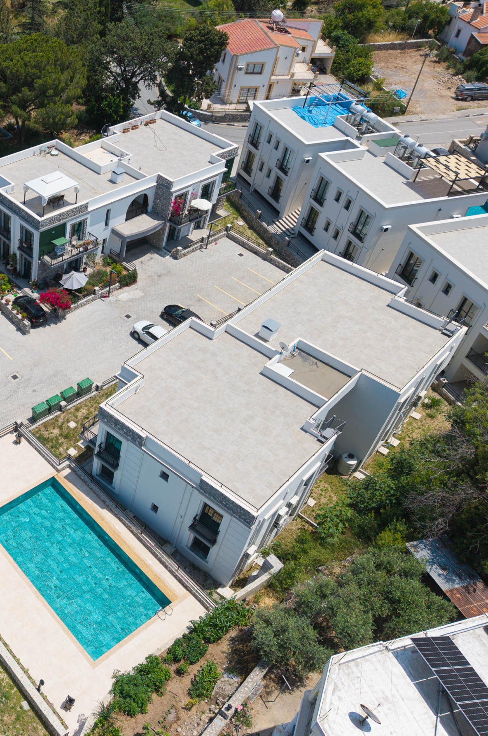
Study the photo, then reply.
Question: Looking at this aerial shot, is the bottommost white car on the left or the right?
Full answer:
The bottommost white car is on the left side of the image.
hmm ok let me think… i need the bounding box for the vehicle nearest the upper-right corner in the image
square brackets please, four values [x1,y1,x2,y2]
[456,82,488,100]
